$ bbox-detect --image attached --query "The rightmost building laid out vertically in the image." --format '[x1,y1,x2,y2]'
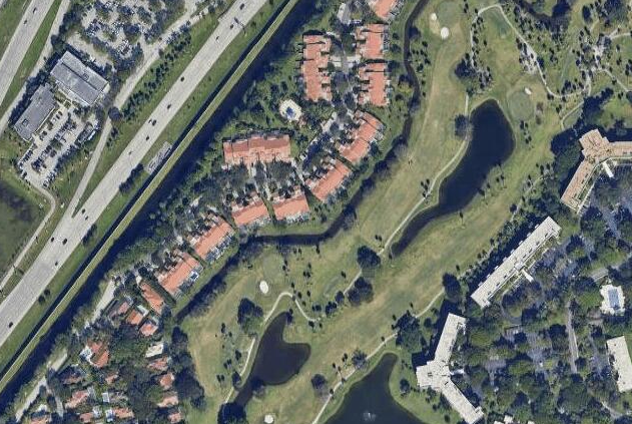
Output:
[607,335,632,391]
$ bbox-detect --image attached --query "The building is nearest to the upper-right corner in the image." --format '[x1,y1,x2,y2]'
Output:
[560,129,632,211]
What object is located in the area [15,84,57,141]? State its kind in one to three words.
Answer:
building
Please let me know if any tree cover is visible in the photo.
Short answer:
Yes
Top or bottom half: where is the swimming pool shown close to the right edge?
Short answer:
bottom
